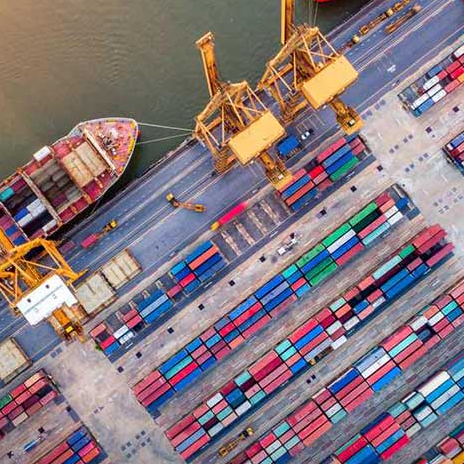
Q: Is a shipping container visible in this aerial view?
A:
Yes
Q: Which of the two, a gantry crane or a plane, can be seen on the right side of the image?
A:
gantry crane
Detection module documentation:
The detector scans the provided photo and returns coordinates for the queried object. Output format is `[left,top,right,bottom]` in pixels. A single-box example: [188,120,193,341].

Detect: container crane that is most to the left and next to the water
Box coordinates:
[0,224,94,346]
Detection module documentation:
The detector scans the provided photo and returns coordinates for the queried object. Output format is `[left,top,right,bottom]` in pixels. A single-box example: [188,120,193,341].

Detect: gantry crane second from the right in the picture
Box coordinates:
[189,27,293,186]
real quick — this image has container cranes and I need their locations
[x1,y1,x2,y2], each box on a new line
[189,27,293,186]
[249,0,364,131]
[0,224,94,346]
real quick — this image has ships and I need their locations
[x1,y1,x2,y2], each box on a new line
[0,117,141,277]
[309,0,337,8]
